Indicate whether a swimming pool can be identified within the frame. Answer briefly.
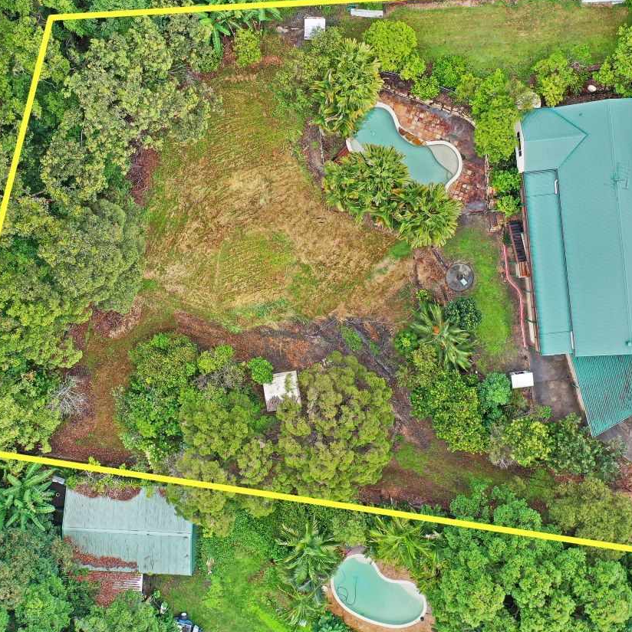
Yes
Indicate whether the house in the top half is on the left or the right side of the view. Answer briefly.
right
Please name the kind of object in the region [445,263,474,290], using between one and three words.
water tank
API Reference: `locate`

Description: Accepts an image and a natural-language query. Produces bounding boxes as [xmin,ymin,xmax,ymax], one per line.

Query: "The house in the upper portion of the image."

[508,97,632,355]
